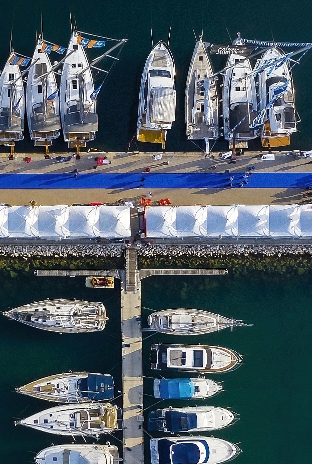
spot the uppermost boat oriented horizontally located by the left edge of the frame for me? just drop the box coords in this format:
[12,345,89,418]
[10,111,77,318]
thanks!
[3,298,105,335]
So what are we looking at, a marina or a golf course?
marina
